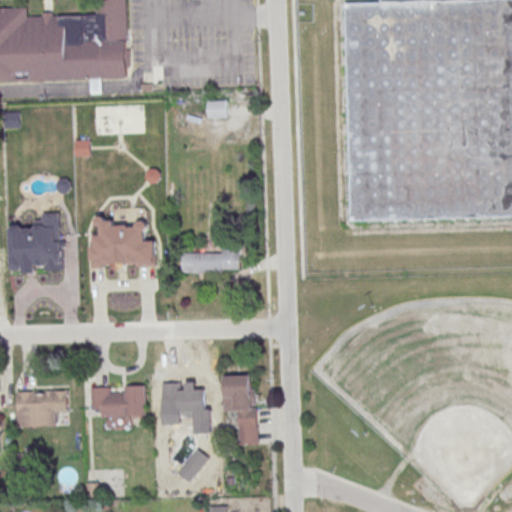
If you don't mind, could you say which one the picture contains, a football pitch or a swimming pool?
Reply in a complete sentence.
This aerial view contains a swimming pool.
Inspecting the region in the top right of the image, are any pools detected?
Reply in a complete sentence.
No, in the top right of the image there is no pool.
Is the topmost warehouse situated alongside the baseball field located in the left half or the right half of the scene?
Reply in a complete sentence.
The topmost warehouse situated alongside the baseball field appears in the right half of the scene.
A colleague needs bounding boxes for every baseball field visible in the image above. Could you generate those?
[314,297,512,511]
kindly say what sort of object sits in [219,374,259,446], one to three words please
house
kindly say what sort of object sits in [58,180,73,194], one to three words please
gazebo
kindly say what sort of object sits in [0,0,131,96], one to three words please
building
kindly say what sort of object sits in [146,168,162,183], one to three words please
gazebo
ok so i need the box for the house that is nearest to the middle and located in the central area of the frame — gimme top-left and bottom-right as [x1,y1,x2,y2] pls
[182,250,242,272]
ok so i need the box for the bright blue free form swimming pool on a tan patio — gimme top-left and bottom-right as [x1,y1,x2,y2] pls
[30,178,60,196]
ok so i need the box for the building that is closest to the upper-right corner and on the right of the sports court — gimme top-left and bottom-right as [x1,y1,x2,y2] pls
[346,0,512,218]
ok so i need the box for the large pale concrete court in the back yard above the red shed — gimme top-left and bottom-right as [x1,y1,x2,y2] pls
[96,105,146,136]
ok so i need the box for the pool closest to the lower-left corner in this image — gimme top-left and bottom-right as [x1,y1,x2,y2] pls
[58,465,80,495]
